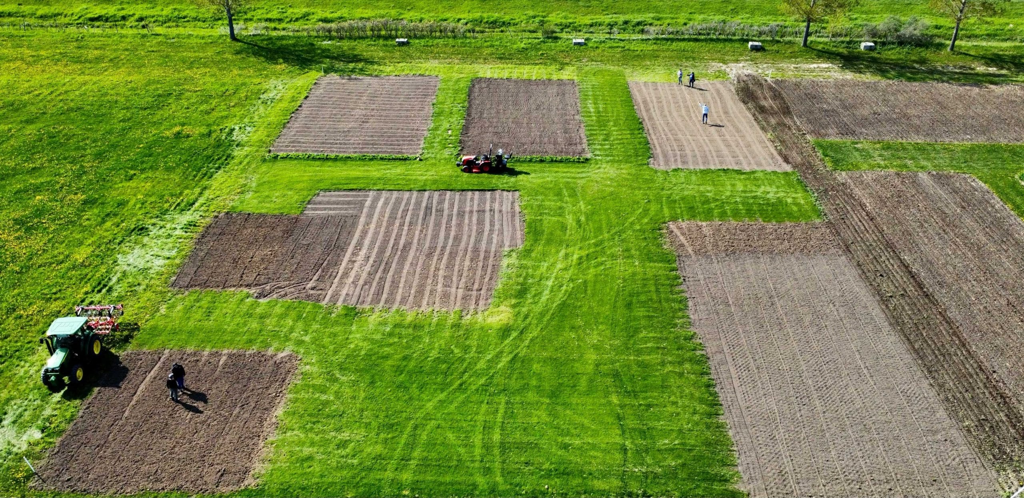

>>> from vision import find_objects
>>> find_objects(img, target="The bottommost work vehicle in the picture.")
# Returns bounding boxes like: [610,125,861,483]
[41,311,108,386]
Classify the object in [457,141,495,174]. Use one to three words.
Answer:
work vehicle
